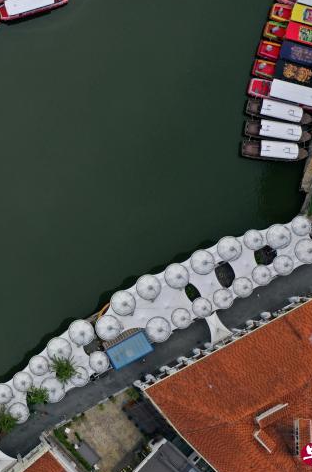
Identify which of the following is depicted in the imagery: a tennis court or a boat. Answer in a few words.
boat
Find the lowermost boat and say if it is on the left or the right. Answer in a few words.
right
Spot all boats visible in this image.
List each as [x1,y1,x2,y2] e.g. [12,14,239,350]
[0,0,70,22]
[239,140,309,162]
[260,20,312,48]
[242,98,312,126]
[248,59,312,90]
[244,77,312,110]
[273,0,312,9]
[267,2,312,29]
[242,119,312,144]
[254,38,312,69]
